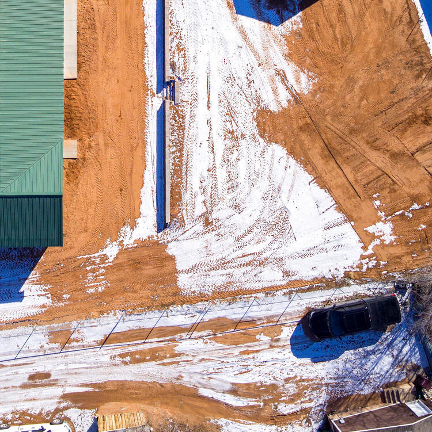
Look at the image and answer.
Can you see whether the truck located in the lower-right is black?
Yes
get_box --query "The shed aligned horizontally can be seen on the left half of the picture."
[99,411,149,432]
